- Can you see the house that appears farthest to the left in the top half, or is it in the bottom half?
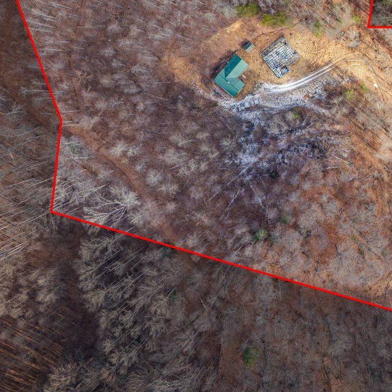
top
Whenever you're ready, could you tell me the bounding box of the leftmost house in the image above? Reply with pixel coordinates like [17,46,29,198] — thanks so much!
[211,55,249,100]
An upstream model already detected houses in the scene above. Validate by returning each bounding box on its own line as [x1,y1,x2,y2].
[261,35,301,78]
[211,55,249,100]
